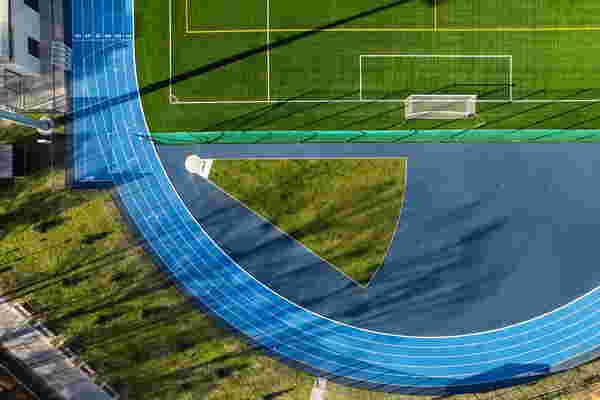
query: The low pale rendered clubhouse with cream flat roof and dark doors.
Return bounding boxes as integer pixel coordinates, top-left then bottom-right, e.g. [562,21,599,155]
[0,0,41,72]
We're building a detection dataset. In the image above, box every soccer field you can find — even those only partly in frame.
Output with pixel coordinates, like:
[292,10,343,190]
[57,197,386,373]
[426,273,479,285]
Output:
[134,0,600,142]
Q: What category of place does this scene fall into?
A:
sports ground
